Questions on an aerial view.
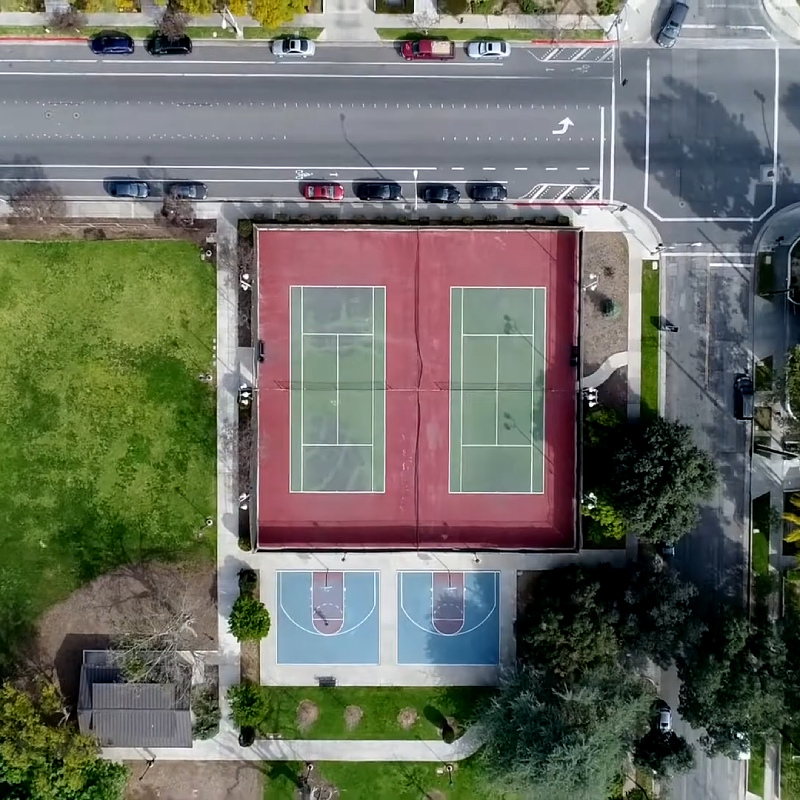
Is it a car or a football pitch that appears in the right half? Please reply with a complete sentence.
The one visible in the right half is a car.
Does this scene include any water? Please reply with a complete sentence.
No, there's no water in this view.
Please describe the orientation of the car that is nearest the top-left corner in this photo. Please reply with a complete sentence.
In this picture, the car that is nearest the top-left corner lies horizontally.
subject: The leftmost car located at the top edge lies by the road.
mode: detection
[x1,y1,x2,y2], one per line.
[92,31,134,52]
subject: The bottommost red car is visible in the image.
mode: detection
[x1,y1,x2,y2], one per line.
[305,181,344,200]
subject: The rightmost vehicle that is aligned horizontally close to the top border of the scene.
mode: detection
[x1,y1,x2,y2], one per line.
[467,38,510,59]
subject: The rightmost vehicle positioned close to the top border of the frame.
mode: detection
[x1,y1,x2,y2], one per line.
[658,0,691,45]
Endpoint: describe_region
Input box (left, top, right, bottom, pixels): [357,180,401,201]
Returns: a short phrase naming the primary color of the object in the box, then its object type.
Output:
black car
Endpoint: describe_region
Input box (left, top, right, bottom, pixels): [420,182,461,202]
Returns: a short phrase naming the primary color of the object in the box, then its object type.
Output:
black car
